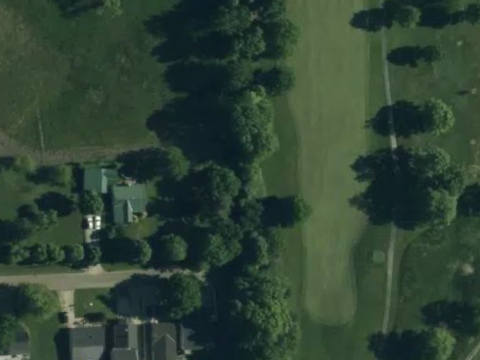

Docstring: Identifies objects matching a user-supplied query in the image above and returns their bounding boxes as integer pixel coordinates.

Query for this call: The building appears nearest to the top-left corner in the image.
[84,166,117,193]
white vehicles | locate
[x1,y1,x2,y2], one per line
[95,216,100,228]
[87,216,93,229]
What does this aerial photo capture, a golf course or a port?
golf course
